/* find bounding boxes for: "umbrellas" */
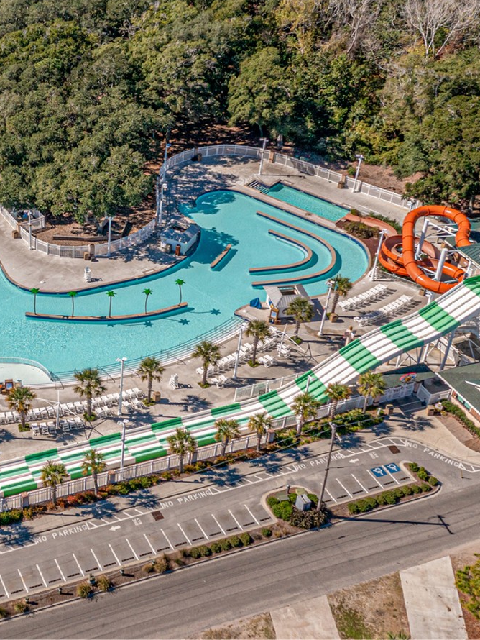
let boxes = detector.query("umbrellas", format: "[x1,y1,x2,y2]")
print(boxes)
[250,291,263,310]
